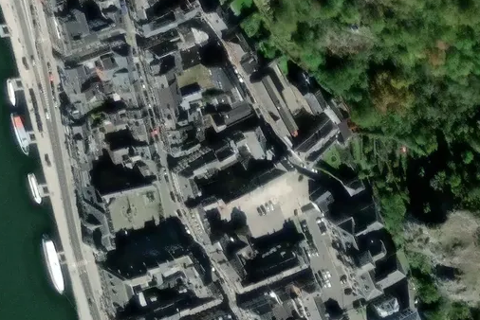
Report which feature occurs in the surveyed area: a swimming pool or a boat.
boat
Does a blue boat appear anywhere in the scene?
No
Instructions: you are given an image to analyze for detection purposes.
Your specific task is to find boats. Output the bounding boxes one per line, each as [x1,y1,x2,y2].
[41,236,63,293]
[8,79,17,107]
[11,114,28,156]
[28,173,40,204]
